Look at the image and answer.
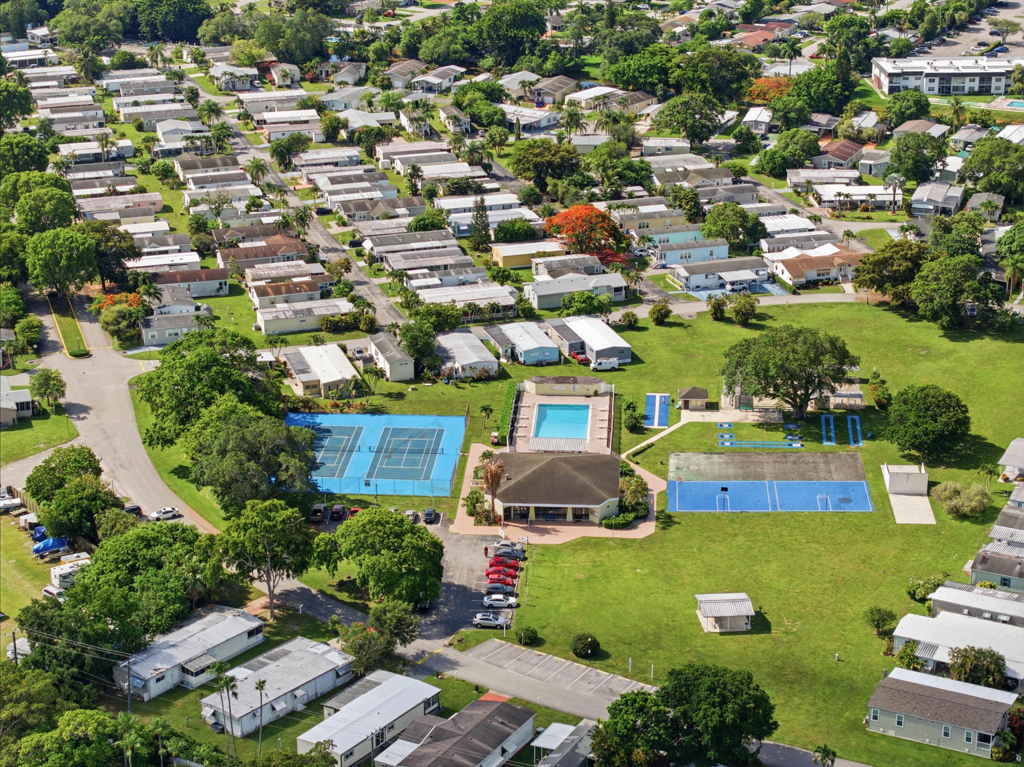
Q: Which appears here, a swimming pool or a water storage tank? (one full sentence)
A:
It is a swimming pool that can be seen here.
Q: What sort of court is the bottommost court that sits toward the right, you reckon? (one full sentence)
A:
The bottommost court that sits toward the right in the image is a basketball court.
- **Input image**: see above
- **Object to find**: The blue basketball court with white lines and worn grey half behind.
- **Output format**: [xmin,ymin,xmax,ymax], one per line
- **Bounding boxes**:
[667,452,875,511]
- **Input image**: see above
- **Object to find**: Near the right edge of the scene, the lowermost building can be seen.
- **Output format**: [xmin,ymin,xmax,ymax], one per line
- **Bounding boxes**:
[868,673,1014,758]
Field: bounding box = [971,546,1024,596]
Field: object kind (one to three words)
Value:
house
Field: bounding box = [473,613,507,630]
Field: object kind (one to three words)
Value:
car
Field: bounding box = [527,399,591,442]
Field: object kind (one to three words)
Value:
swimming pool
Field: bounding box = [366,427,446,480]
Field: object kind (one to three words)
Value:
tennis court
